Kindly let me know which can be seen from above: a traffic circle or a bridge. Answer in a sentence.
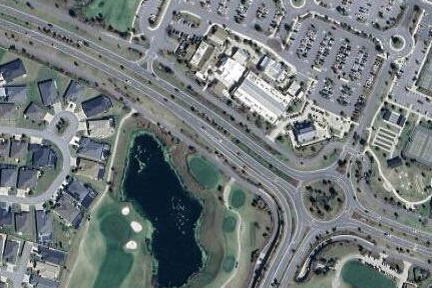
I can see a traffic circle in this picture.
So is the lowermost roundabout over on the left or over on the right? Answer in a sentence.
The lowermost roundabout sits on the right side.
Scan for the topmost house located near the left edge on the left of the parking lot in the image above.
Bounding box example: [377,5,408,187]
[0,57,26,82]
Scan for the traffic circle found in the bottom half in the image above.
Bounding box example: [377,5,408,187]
[292,168,355,231]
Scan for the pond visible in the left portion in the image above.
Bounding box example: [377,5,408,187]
[124,132,202,288]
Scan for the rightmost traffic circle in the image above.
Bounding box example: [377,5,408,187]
[383,28,411,57]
